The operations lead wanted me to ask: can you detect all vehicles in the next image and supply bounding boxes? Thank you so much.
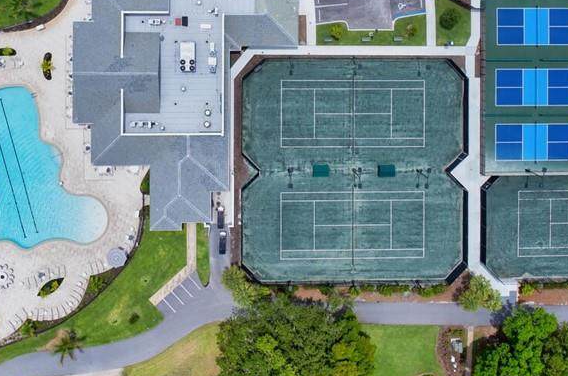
[217,205,225,228]
[219,230,227,254]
